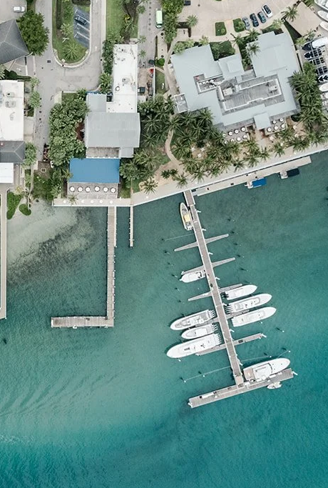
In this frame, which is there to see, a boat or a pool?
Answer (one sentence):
Of the two, only a boat appears.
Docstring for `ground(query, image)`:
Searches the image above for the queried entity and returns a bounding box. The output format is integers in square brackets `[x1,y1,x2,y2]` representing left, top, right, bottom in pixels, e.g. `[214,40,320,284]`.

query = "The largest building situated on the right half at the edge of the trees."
[167,31,301,131]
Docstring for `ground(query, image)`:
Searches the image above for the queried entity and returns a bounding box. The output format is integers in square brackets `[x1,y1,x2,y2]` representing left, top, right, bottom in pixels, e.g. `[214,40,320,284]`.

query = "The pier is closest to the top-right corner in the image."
[193,157,311,197]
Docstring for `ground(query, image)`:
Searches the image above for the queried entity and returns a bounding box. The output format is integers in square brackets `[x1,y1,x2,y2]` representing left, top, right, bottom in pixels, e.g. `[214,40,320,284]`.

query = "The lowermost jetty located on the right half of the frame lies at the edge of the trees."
[173,191,296,406]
